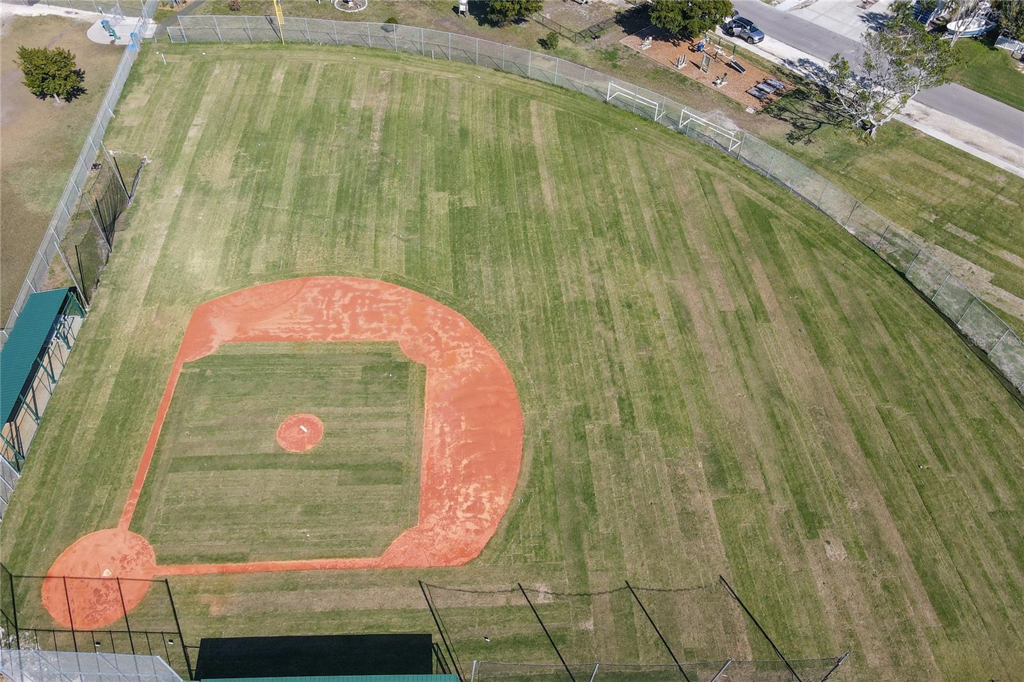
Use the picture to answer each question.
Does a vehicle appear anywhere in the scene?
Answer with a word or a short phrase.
Yes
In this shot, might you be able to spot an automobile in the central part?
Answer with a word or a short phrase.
No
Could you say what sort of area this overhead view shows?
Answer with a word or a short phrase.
sports ground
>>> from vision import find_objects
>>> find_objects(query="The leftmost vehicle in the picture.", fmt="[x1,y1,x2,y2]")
[725,8,765,44]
